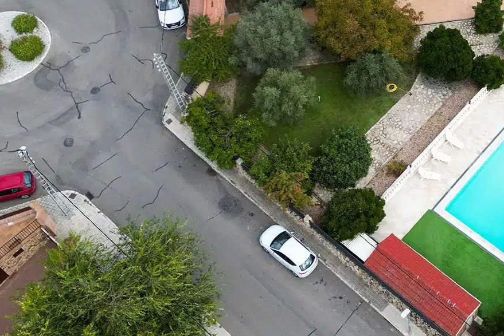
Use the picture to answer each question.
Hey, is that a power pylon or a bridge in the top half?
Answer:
power pylon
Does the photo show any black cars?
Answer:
No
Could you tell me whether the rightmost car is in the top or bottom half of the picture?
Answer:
bottom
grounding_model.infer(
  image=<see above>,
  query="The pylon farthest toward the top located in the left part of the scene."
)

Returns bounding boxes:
[150,47,189,113]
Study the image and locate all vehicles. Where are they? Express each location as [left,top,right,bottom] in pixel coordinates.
[0,171,37,201]
[154,0,185,32]
[256,225,322,280]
